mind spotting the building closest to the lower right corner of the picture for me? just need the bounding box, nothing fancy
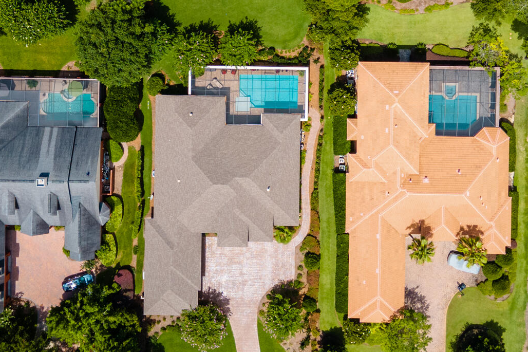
[345,62,512,323]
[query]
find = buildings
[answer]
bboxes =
[0,99,114,310]
[345,62,512,323]
[141,95,300,315]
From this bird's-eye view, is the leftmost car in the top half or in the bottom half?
bottom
